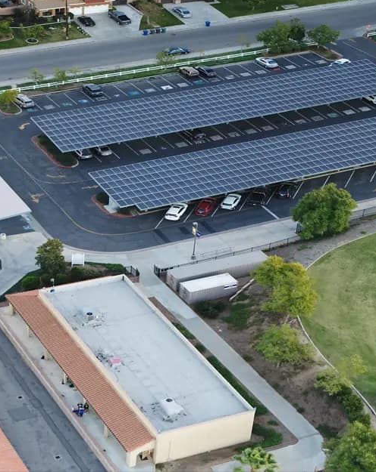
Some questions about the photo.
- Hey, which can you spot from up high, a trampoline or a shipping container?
shipping container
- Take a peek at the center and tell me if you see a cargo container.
Yes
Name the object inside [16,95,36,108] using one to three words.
vehicle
